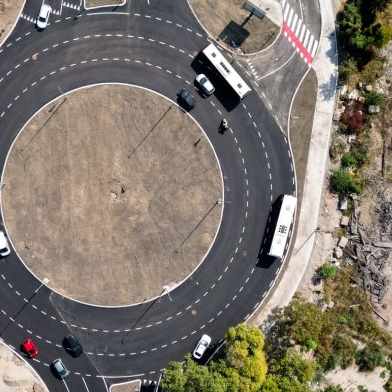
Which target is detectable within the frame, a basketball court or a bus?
bus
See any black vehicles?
Yes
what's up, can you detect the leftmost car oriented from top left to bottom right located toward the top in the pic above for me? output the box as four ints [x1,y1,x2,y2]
[178,89,196,111]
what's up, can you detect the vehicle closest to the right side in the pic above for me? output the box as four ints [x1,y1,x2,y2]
[267,194,297,258]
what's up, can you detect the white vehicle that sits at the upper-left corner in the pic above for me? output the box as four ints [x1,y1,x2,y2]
[37,5,51,29]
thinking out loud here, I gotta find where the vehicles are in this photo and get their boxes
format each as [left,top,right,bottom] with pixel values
[200,42,251,100]
[0,231,10,257]
[23,338,38,357]
[37,5,51,29]
[267,194,297,258]
[193,334,211,358]
[195,73,214,96]
[63,334,82,357]
[178,89,196,111]
[53,357,70,378]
